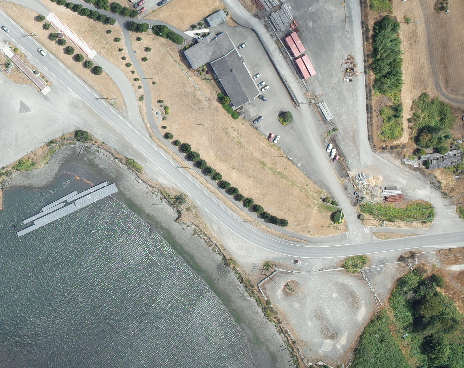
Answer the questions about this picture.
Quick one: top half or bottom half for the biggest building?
top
